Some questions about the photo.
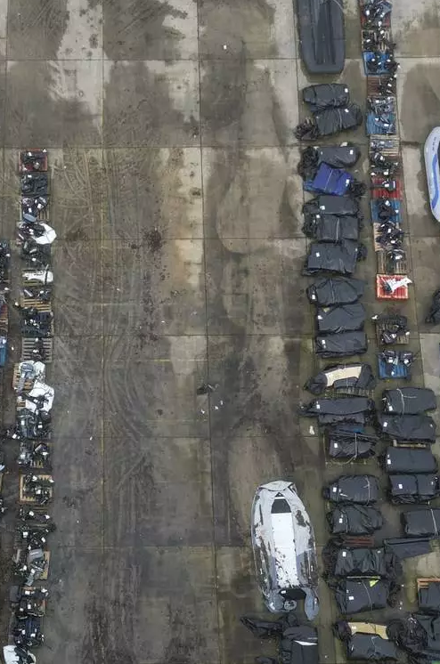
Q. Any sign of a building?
No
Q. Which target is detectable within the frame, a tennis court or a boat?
boat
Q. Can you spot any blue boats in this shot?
Yes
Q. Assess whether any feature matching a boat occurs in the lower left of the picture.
No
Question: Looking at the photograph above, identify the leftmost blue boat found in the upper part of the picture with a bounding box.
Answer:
[306,162,370,196]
